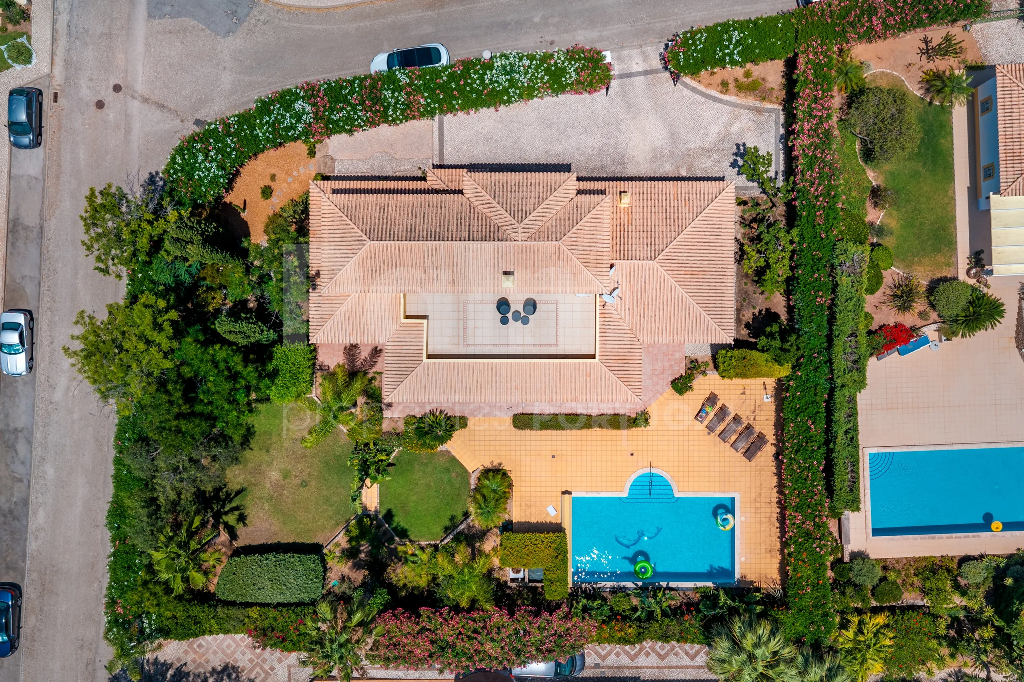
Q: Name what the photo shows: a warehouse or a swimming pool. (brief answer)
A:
swimming pool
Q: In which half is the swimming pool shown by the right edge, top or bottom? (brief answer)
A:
bottom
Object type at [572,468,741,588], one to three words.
swimming pool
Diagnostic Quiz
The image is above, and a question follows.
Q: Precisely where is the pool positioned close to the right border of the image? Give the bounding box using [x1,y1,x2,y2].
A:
[864,442,1024,543]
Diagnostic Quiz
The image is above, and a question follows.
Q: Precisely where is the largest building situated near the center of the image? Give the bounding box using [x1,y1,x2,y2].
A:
[308,167,737,404]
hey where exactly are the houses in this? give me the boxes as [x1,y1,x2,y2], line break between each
[975,63,1024,220]
[308,167,737,404]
